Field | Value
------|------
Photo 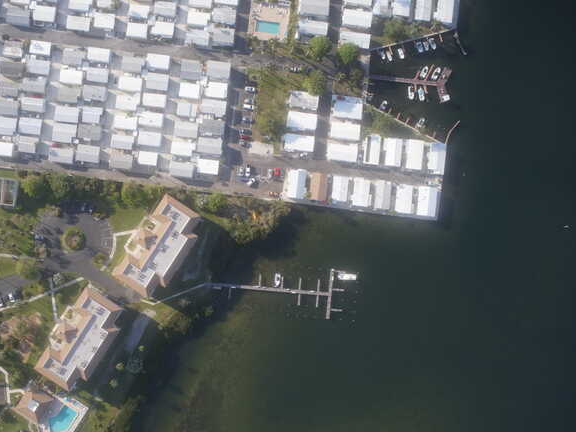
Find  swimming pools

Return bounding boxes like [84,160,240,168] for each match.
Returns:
[36,396,87,432]
[249,0,290,39]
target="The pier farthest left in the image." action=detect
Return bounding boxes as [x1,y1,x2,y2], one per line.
[203,269,345,320]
